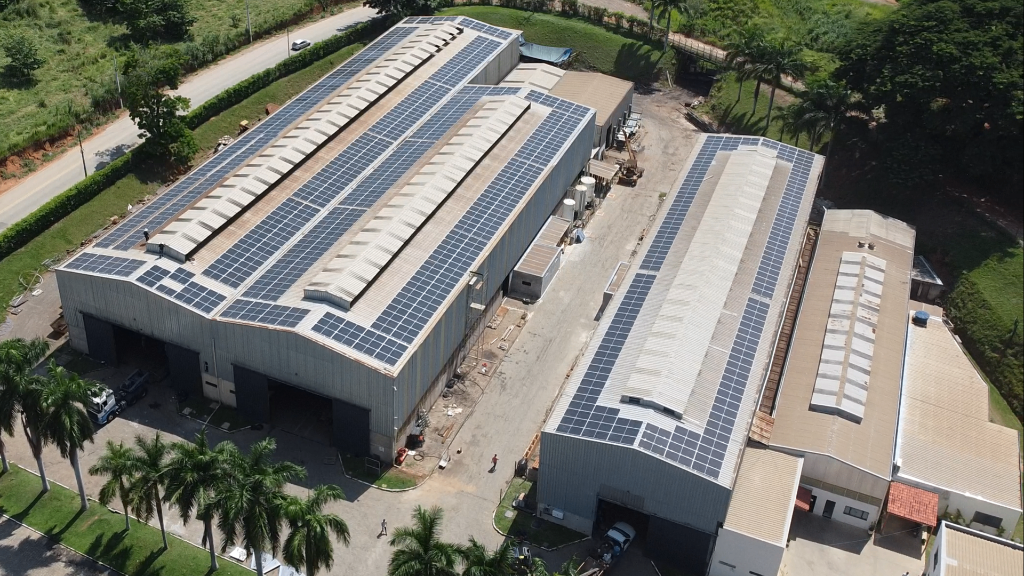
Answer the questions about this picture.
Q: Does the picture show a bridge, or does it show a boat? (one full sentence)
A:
It is a bridge that can be seen here.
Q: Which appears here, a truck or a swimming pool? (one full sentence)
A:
Looking from above, you can make out a truck.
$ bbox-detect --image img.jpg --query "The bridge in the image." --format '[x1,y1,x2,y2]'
[670,33,740,79]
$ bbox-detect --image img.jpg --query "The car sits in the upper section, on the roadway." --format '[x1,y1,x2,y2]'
[288,35,310,48]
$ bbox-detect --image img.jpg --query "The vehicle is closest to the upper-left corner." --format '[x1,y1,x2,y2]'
[232,119,250,134]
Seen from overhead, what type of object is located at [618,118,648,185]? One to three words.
crane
